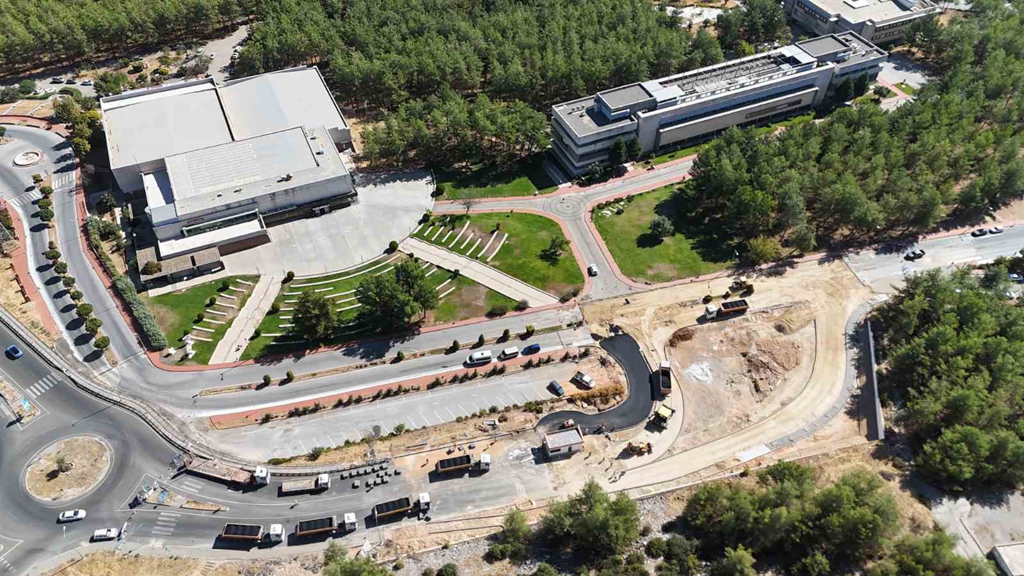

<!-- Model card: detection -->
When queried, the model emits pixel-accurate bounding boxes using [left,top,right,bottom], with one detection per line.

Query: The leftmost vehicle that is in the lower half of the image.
[5,346,23,359]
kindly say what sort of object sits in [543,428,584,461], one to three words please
building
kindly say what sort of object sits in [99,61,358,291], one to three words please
building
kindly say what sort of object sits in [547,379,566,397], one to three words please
car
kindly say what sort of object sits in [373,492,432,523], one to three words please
truck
